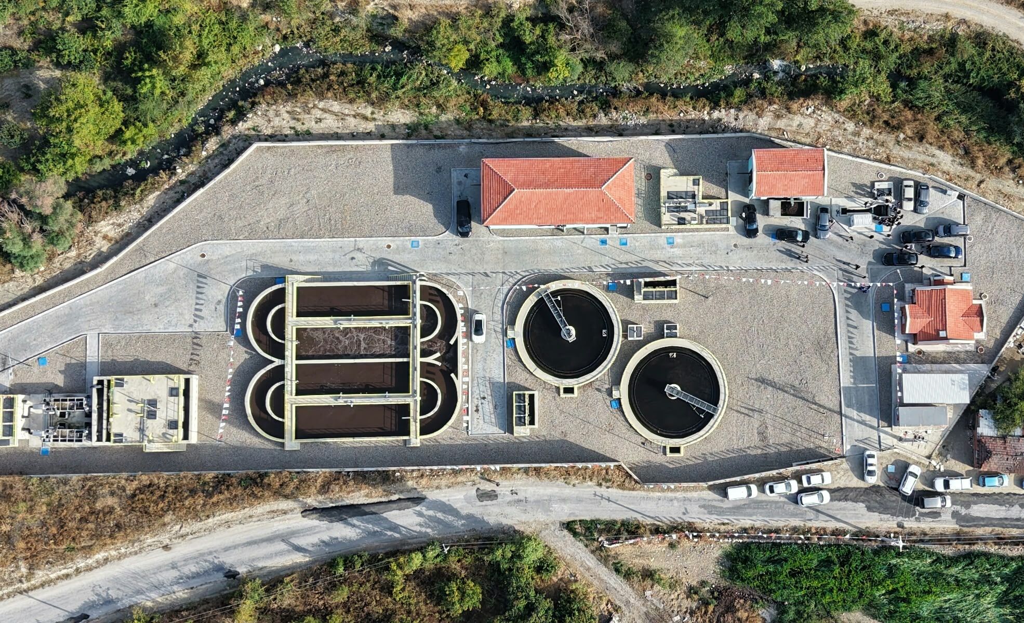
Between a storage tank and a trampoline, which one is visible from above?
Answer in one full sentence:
The image shows a storage tank.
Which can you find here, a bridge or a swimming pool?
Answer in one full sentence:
Of the two, only a bridge appears.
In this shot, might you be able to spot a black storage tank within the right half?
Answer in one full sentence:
Yes, a black storage tank can be seen within the right half.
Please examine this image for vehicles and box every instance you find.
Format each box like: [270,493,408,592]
[742,204,760,239]
[932,476,972,492]
[862,451,879,483]
[725,484,758,500]
[900,228,935,244]
[918,494,951,510]
[882,251,918,266]
[801,472,831,486]
[897,463,922,497]
[978,473,1008,488]
[775,228,810,243]
[797,490,830,507]
[470,312,486,343]
[934,222,970,238]
[928,244,962,259]
[456,199,472,237]
[900,181,916,211]
[764,480,798,496]
[914,182,932,214]
[815,206,832,239]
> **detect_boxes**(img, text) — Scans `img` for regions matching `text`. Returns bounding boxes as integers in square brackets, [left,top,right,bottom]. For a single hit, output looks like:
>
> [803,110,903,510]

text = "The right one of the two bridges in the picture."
[665,386,726,417]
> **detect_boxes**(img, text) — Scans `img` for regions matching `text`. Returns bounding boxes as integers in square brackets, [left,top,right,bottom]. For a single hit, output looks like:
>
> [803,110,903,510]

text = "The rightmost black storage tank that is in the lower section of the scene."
[612,339,728,456]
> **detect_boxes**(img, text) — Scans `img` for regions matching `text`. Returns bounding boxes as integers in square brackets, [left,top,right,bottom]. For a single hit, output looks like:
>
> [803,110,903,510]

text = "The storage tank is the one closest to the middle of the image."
[508,280,622,397]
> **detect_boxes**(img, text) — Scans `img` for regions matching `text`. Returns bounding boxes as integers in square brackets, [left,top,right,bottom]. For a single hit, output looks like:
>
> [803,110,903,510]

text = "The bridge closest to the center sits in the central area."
[536,286,575,340]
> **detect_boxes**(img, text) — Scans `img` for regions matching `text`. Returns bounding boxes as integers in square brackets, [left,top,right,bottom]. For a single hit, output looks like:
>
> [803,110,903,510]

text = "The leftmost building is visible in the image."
[481,156,635,236]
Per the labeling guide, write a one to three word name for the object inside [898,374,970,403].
shed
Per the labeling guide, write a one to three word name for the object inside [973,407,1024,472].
house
